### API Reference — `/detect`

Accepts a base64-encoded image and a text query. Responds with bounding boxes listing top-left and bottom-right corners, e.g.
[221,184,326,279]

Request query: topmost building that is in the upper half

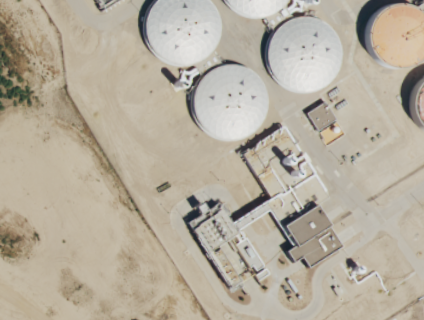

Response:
[306,103,335,132]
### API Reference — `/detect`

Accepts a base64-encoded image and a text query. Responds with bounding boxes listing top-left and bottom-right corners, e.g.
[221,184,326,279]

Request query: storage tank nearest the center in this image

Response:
[191,64,268,142]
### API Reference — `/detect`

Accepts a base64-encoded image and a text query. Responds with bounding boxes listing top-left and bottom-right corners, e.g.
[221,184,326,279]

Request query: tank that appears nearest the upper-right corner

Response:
[364,4,424,70]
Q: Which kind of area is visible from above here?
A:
industrial area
